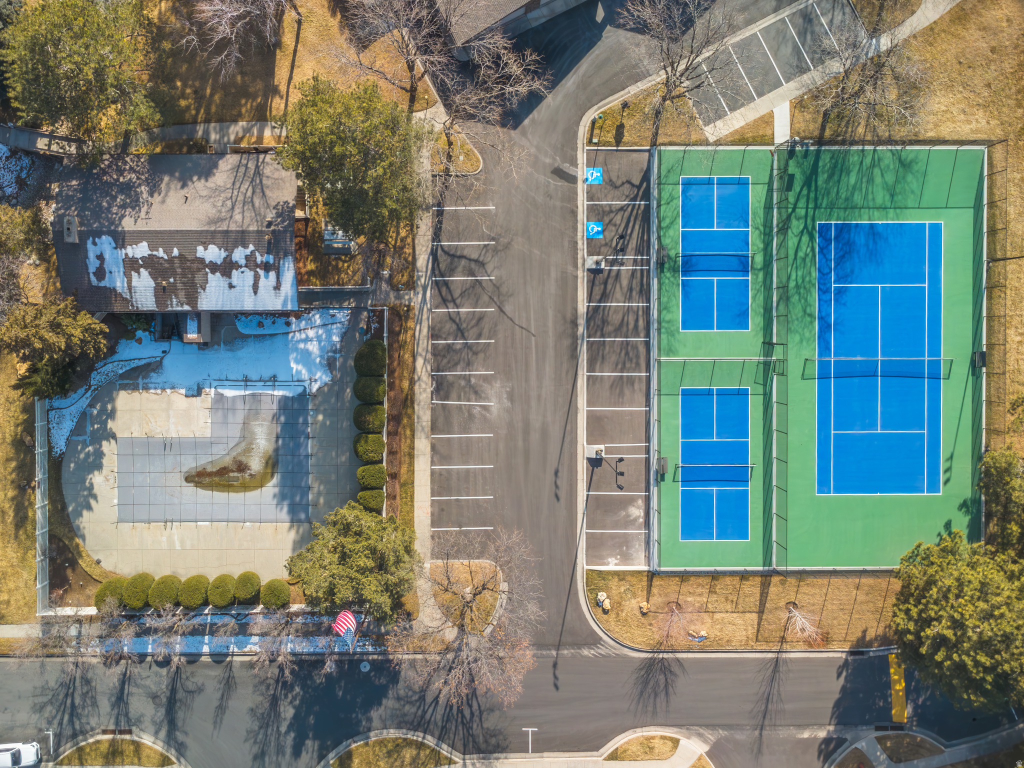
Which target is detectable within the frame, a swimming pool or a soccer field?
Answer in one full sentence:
I can see a swimming pool in this picture.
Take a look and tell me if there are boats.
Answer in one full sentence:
No, there is no boat in the image.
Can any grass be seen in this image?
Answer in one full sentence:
Yes, grass can be seen from above here.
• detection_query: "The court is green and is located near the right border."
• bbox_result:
[776,148,986,567]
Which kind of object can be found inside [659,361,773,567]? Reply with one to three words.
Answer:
sports court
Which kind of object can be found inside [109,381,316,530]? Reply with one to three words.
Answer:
swimming pool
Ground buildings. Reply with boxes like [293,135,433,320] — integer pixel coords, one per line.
[441,0,581,50]
[52,152,300,342]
